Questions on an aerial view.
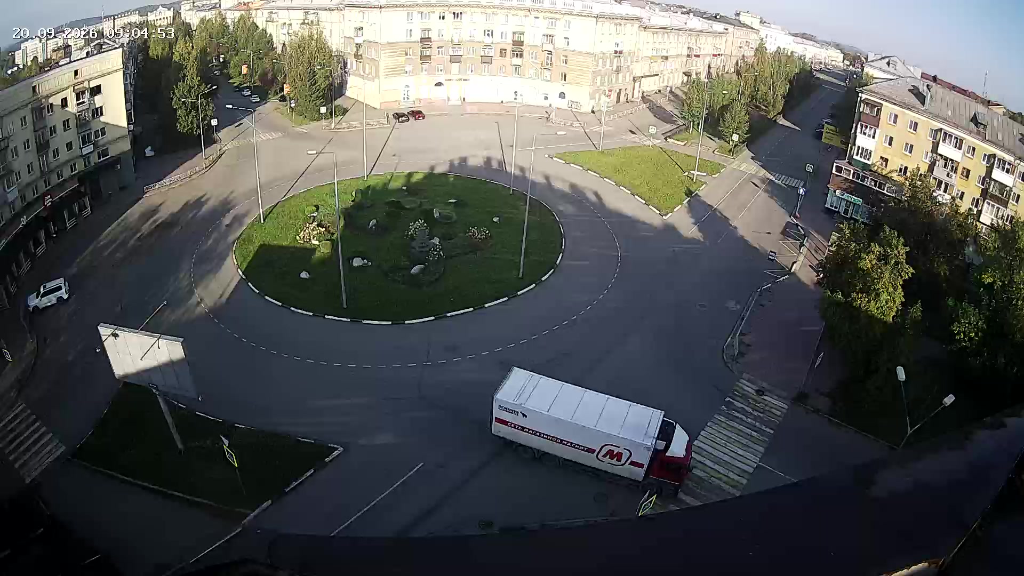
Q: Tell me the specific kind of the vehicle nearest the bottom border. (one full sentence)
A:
I'd identify the vehicle nearest the bottom border as a truck.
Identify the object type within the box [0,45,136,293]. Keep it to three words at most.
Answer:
building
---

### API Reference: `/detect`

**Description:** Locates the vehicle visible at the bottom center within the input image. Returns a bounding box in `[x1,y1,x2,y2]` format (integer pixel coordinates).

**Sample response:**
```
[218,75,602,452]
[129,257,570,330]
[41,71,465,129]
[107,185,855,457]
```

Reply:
[491,366,699,499]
